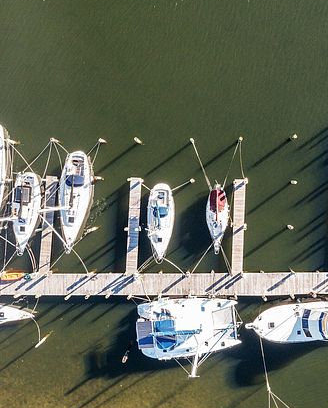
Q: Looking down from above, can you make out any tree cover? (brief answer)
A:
No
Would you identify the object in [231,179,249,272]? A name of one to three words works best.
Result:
pier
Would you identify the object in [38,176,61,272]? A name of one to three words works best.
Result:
pier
